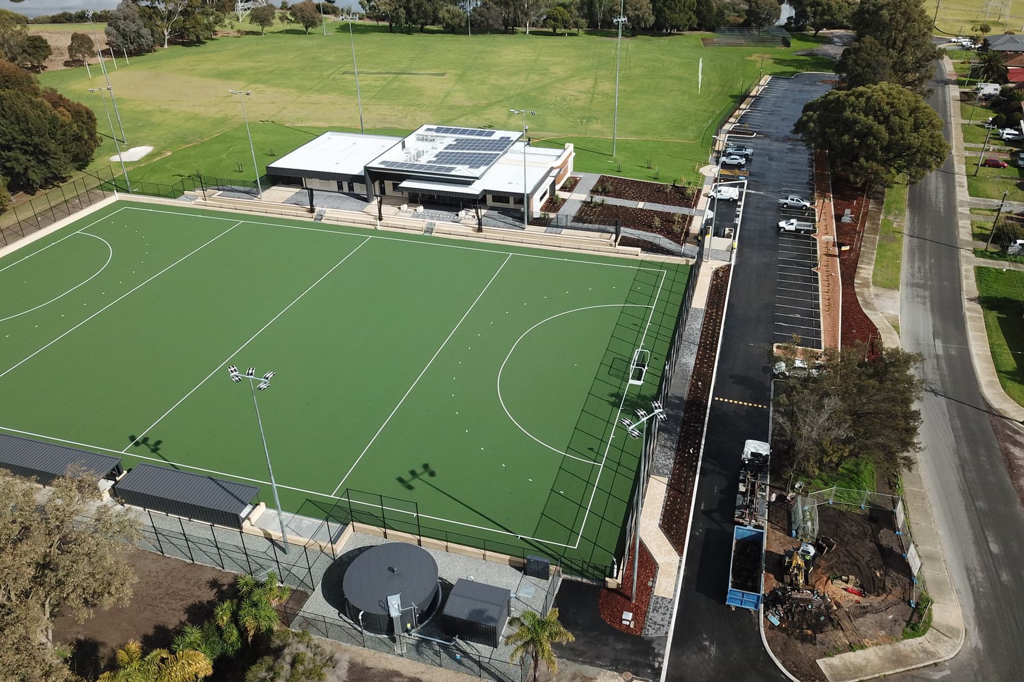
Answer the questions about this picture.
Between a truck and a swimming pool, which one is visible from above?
truck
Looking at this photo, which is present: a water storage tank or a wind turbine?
water storage tank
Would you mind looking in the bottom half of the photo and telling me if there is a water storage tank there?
Yes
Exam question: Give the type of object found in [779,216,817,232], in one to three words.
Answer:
vehicle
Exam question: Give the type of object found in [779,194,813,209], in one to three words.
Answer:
vehicle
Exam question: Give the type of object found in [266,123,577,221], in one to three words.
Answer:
building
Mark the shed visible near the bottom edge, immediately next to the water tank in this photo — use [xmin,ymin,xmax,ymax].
[442,578,517,651]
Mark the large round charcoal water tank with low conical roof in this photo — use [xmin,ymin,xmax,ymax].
[338,540,456,653]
